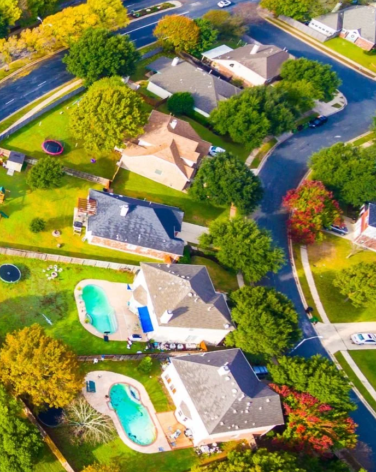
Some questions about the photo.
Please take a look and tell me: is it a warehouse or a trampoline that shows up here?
trampoline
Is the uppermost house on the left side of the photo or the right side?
right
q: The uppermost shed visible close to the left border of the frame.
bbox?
[5,152,26,175]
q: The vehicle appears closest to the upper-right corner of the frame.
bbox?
[309,114,329,126]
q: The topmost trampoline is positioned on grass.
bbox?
[42,136,62,155]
